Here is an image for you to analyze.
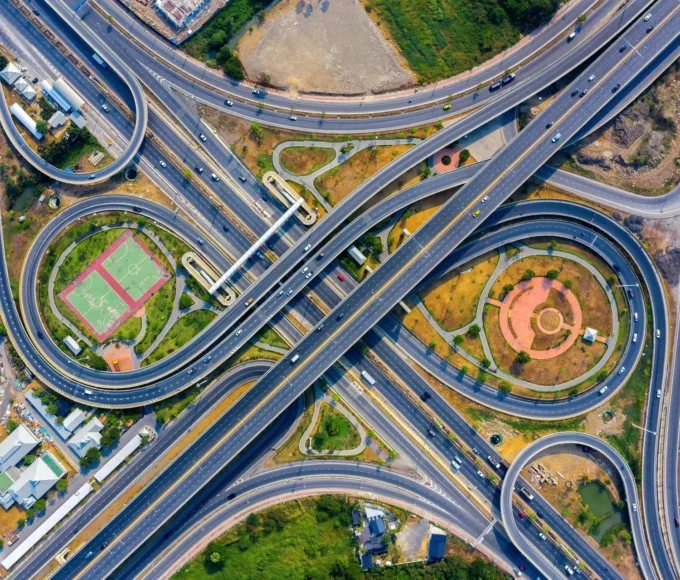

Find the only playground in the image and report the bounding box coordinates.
[104,344,134,371]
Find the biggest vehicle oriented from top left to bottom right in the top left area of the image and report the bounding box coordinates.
[89,50,107,67]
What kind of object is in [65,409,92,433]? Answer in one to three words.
house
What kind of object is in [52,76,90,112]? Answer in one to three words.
building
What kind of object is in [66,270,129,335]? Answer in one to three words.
sports court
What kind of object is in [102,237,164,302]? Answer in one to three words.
sports court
